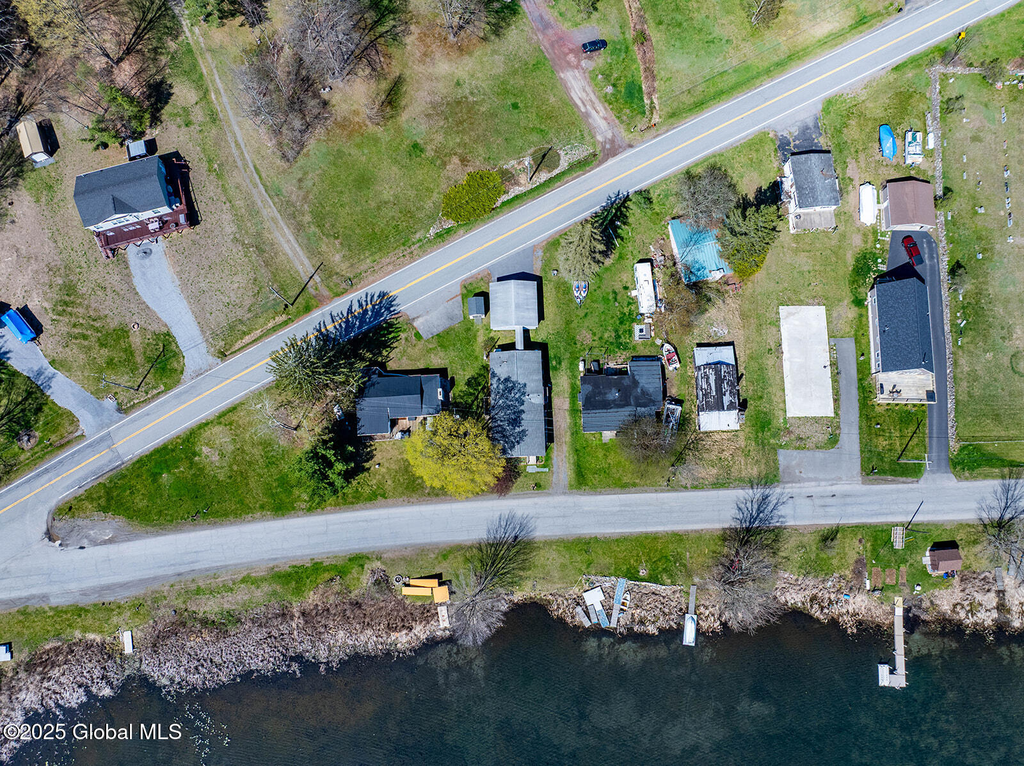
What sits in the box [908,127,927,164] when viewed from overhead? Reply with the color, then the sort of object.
white boat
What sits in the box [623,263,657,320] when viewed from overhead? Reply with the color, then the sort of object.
white vehicle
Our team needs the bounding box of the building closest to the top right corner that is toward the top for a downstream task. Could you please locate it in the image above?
[878,180,935,231]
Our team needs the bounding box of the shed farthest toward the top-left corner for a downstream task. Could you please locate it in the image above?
[17,121,50,166]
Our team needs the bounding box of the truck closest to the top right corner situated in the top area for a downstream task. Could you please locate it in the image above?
[904,234,926,265]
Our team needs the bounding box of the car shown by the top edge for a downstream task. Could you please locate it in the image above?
[583,37,607,51]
